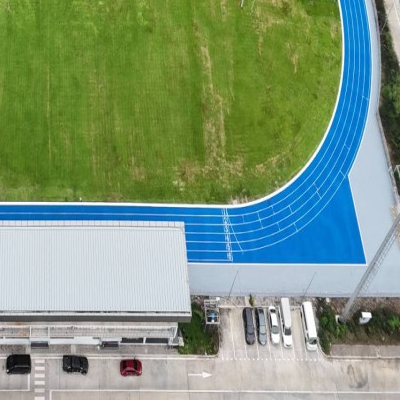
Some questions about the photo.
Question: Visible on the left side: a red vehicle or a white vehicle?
red vehicle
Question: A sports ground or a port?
sports ground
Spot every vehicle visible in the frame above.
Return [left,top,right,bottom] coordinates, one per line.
[243,305,257,348]
[120,359,143,378]
[300,297,319,357]
[266,305,281,346]
[6,355,30,377]
[255,305,269,347]
[62,356,88,377]
[278,291,296,352]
